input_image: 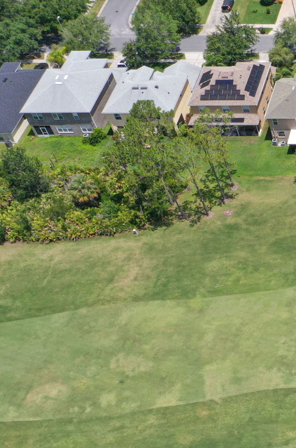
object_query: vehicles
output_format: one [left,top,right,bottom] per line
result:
[221,0,233,11]
[114,58,126,72]
[32,58,50,70]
